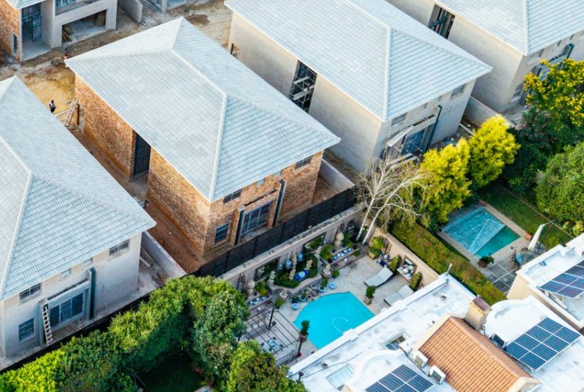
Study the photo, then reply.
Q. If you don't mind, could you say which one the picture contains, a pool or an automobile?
pool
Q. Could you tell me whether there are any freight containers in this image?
No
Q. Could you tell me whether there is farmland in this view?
No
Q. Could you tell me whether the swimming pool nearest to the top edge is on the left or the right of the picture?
right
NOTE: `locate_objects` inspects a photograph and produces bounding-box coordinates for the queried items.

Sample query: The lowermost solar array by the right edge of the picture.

[507,320,583,372]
